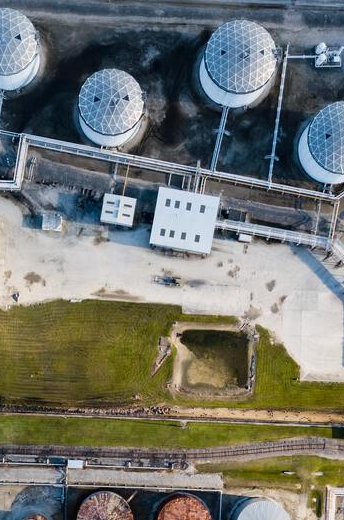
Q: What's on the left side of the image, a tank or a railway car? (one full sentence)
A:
It is a tank that can be seen on the left side of the image.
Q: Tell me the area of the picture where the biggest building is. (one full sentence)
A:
The biggest building is in the center part of the image.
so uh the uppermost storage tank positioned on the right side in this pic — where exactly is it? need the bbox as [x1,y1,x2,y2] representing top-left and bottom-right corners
[199,18,281,110]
